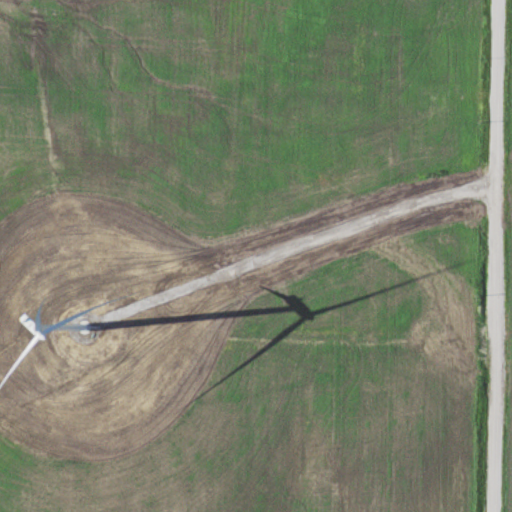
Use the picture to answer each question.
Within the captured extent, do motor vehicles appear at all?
No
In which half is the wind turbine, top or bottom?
bottom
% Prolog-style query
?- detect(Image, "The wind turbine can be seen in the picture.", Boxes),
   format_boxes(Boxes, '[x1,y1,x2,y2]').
[0,300,132,388]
